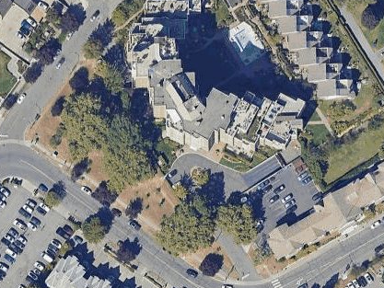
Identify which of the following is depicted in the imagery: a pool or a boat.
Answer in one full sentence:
I can see a pool in this picture.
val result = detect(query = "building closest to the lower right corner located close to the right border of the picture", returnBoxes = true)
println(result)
[269,161,384,262]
